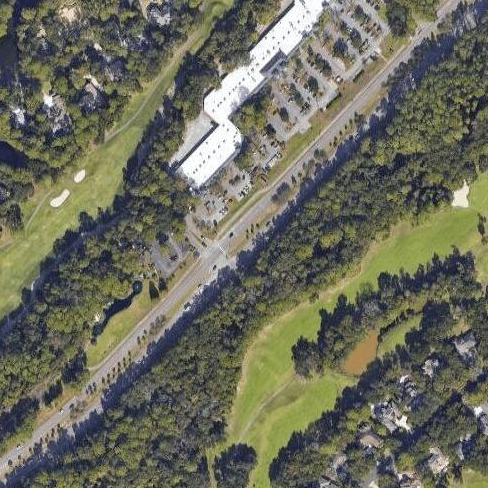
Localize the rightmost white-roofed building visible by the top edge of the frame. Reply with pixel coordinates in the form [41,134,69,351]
[180,0,333,190]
